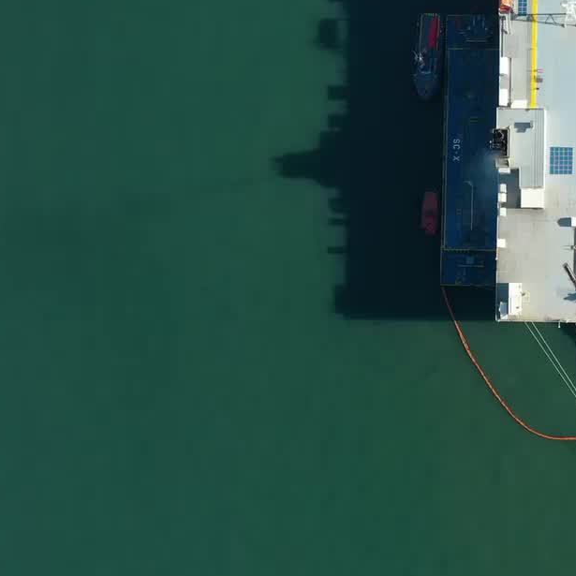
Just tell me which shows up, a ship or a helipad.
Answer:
ship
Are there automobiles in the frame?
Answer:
No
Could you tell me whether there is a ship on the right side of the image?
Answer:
Yes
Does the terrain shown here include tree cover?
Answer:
No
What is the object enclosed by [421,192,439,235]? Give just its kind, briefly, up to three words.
boat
